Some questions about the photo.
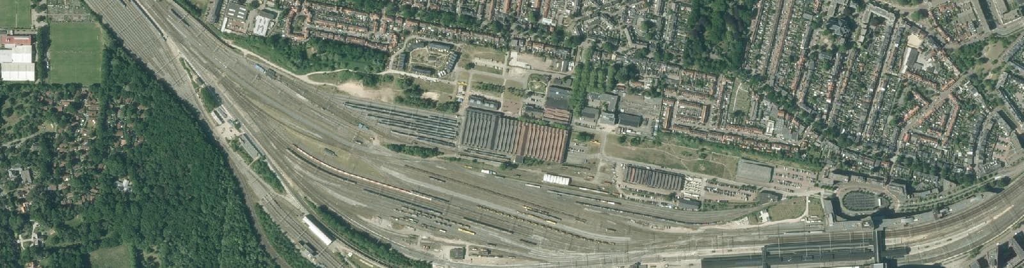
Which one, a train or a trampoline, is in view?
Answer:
train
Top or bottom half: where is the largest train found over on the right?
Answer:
bottom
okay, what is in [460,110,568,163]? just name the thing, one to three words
building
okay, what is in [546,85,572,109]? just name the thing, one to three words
building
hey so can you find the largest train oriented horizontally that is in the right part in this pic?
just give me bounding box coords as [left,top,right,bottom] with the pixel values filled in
[576,201,730,225]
